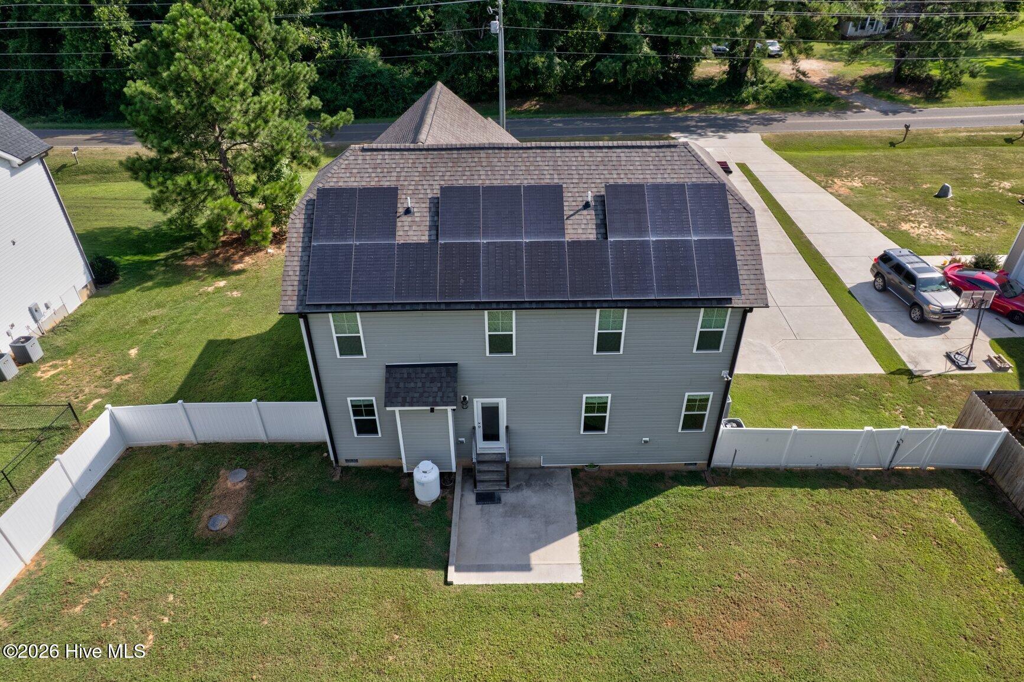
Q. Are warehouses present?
No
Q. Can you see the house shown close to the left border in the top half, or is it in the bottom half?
top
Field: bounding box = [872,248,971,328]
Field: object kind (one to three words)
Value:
car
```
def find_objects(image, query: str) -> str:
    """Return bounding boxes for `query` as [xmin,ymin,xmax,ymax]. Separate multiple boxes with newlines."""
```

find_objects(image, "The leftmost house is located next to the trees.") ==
[0,117,97,353]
